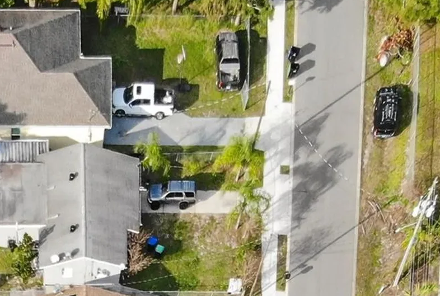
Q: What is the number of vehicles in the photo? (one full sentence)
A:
My tally gives 4 vehicles in this view.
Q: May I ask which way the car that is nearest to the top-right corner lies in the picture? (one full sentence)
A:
From this overhead view, the car that is nearest to the top-right corner appears to run vertically.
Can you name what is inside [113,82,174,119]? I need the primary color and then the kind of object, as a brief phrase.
white truck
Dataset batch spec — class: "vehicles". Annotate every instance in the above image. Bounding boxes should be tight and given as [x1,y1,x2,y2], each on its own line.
[374,86,402,142]
[217,35,244,101]
[149,181,197,211]
[113,82,174,119]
